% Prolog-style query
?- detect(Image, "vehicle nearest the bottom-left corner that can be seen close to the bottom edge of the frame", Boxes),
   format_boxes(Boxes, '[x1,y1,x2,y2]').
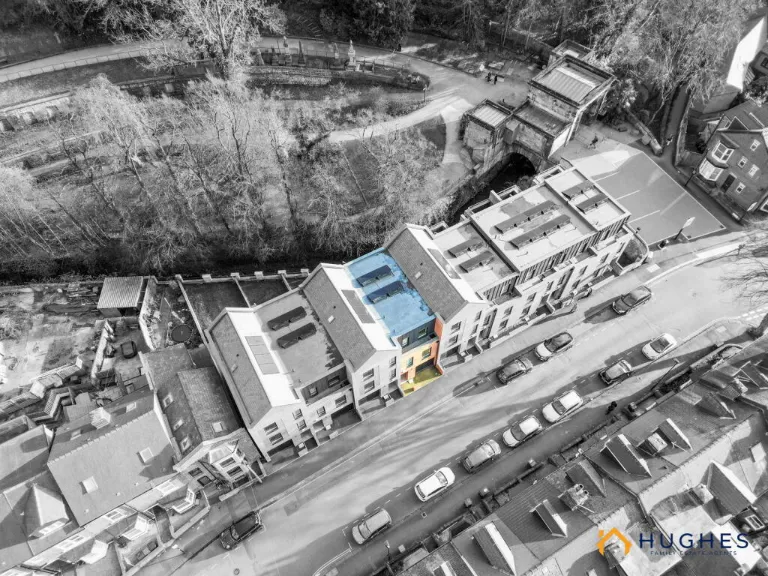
[219,512,267,554]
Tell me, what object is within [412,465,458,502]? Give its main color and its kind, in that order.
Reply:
white car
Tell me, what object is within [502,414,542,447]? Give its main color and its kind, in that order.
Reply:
white car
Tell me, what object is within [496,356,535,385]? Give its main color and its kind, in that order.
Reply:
gray car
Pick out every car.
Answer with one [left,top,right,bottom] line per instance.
[542,389,584,422]
[496,356,535,385]
[597,358,634,386]
[460,437,503,472]
[219,512,267,554]
[535,332,574,362]
[502,414,542,447]
[613,287,652,315]
[350,504,393,543]
[412,465,458,502]
[640,332,677,359]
